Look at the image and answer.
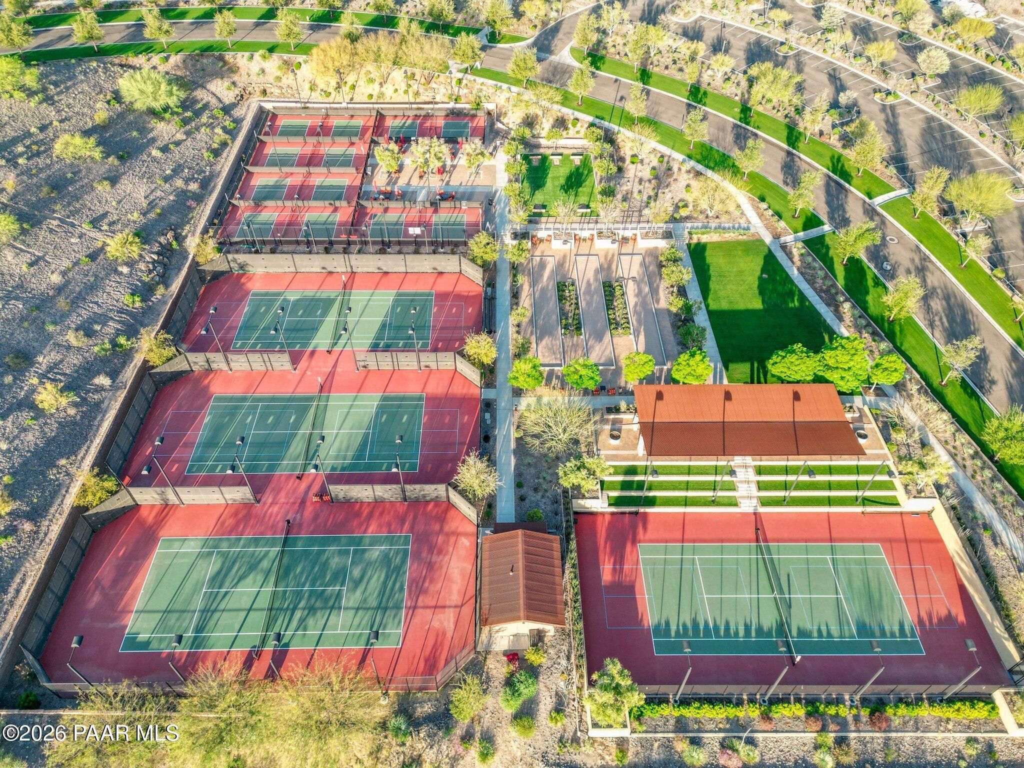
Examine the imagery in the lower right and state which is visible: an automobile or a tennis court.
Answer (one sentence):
There is a tennis court in the lower right.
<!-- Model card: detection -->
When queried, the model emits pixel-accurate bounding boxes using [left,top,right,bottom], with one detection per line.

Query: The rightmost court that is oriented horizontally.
[574,511,1008,696]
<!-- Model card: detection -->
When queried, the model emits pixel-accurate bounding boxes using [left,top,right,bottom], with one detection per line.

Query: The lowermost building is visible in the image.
[481,522,567,637]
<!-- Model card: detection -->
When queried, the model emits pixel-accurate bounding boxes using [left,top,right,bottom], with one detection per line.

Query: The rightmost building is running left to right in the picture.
[618,383,870,457]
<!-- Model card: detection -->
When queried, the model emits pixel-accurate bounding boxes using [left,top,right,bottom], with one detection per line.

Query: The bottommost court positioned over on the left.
[39,501,476,697]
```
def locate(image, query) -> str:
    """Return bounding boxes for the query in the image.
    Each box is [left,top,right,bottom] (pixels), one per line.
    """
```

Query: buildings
[618,383,870,457]
[481,522,567,637]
